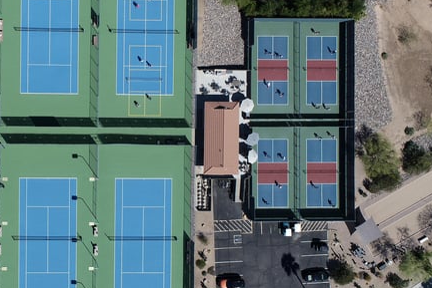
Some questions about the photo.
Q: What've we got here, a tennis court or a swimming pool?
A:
tennis court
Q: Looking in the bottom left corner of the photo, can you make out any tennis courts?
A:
Yes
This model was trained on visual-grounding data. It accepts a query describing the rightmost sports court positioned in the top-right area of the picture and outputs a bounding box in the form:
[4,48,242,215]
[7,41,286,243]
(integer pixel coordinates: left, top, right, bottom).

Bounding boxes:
[292,22,346,119]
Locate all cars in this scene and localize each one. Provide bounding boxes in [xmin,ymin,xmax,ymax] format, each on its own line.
[218,277,243,288]
[302,268,327,281]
